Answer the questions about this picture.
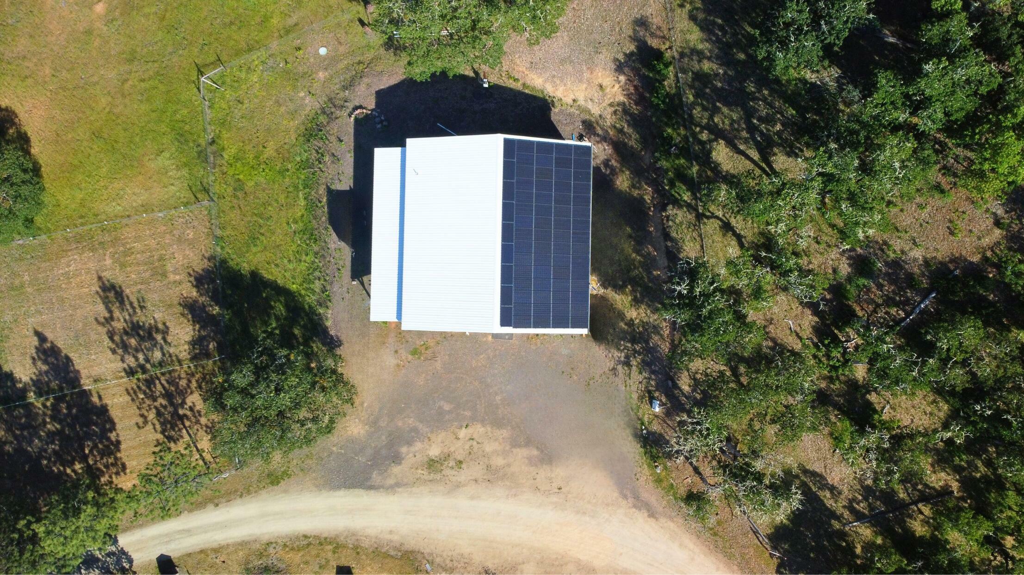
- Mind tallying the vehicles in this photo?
0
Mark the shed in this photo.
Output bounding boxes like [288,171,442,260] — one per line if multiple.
[370,135,594,341]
